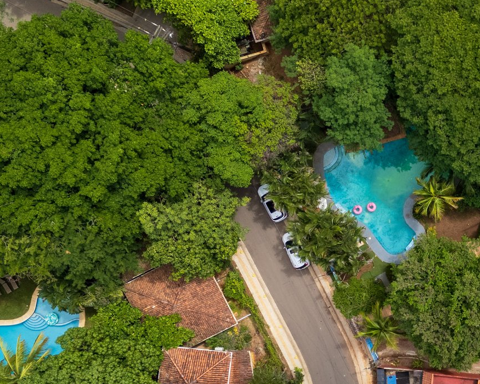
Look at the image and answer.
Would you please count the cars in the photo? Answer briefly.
two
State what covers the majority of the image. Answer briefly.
trees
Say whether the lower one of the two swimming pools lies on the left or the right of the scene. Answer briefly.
left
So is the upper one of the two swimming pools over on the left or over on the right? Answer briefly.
right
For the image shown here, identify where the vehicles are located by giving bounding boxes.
[255,184,285,223]
[279,232,309,271]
